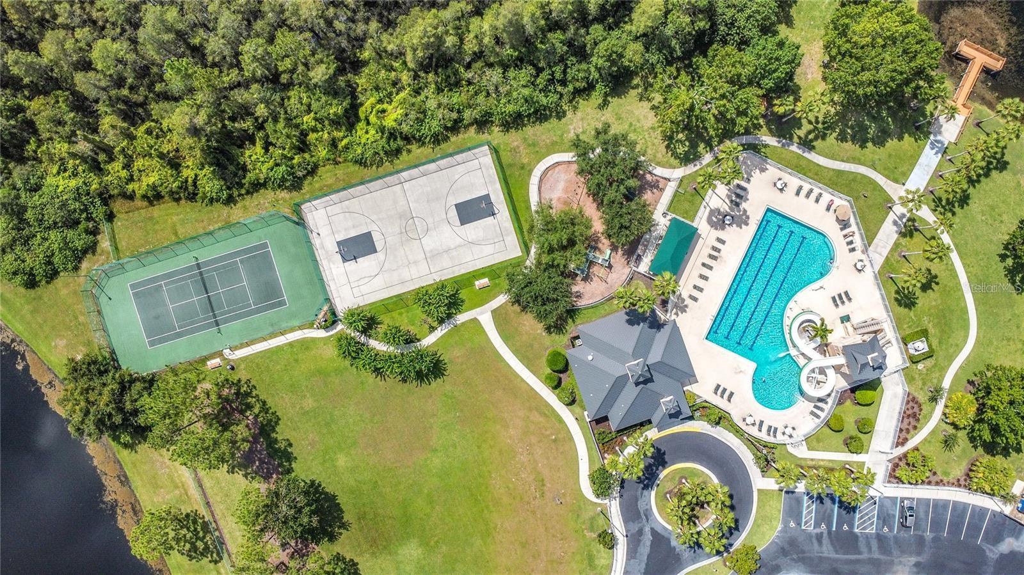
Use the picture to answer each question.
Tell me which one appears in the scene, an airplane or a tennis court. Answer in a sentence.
Looking from above, you can make out a tennis court.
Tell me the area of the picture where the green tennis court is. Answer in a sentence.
The green tennis court appears toward the left of the photo.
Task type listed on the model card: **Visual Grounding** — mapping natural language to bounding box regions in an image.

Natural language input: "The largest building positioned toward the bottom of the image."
[567,306,696,432]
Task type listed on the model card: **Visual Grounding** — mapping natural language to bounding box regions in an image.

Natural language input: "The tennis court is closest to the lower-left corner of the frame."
[93,209,329,373]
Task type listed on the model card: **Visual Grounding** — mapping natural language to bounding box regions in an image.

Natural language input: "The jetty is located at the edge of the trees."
[941,37,1011,142]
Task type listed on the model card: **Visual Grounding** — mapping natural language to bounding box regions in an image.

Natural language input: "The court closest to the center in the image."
[299,146,523,313]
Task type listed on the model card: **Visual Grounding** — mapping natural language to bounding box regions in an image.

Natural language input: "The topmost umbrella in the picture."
[835,203,852,220]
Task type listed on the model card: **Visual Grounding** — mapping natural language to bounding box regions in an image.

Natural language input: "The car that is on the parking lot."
[899,499,917,530]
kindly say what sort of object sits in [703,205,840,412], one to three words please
swimming pool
